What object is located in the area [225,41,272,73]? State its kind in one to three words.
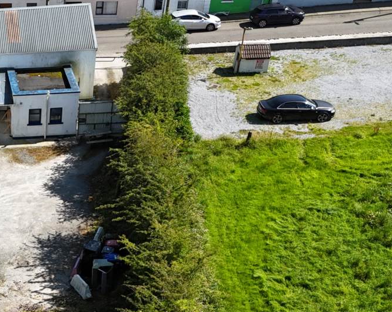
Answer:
shed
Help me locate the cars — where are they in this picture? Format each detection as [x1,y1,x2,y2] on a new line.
[247,2,304,28]
[259,93,338,123]
[177,9,221,31]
